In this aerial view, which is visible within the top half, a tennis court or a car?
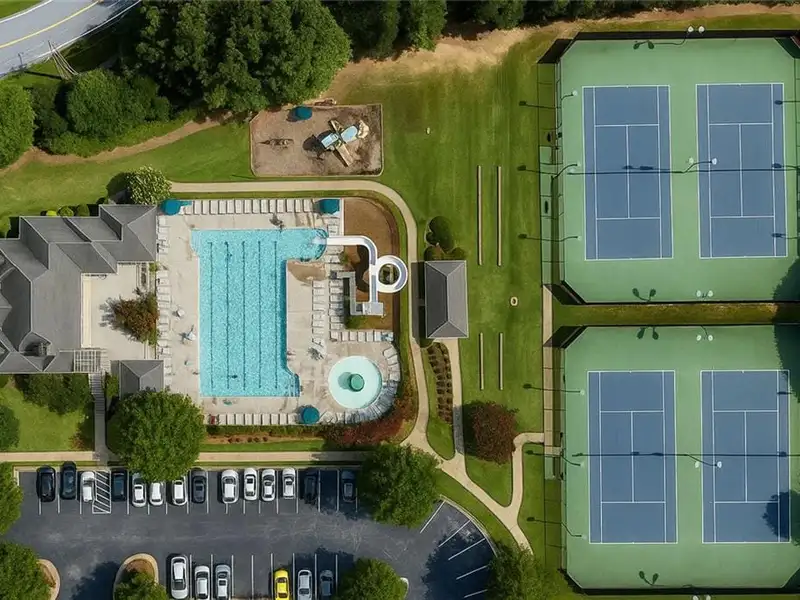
tennis court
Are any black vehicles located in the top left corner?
No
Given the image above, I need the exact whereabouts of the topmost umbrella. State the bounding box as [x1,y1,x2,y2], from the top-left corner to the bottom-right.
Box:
[295,105,312,122]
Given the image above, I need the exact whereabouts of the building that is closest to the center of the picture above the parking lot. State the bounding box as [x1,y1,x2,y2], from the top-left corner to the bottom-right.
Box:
[424,260,469,339]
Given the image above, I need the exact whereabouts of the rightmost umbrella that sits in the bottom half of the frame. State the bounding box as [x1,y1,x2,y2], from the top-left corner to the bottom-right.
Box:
[302,405,319,423]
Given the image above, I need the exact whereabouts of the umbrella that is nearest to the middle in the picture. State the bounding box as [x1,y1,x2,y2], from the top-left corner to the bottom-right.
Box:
[320,196,340,216]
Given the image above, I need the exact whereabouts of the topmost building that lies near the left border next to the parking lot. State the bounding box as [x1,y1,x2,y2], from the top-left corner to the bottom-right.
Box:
[0,204,158,373]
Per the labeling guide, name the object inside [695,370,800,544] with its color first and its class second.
blue tennis court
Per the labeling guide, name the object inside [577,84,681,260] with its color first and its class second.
blue tennis court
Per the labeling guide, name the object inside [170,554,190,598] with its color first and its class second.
white car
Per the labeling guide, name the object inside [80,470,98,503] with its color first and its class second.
white car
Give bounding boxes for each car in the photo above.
[302,469,319,505]
[191,468,208,505]
[171,471,188,505]
[320,568,335,600]
[130,473,148,507]
[59,461,79,500]
[36,466,58,504]
[297,568,313,600]
[170,554,190,598]
[260,468,277,502]
[280,467,296,499]
[110,468,129,503]
[214,563,232,600]
[242,467,259,501]
[220,469,240,504]
[194,565,211,600]
[273,567,291,600]
[80,470,98,503]
[148,479,165,506]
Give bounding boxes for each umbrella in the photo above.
[163,198,182,216]
[295,105,312,122]
[302,405,319,423]
[320,196,340,216]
